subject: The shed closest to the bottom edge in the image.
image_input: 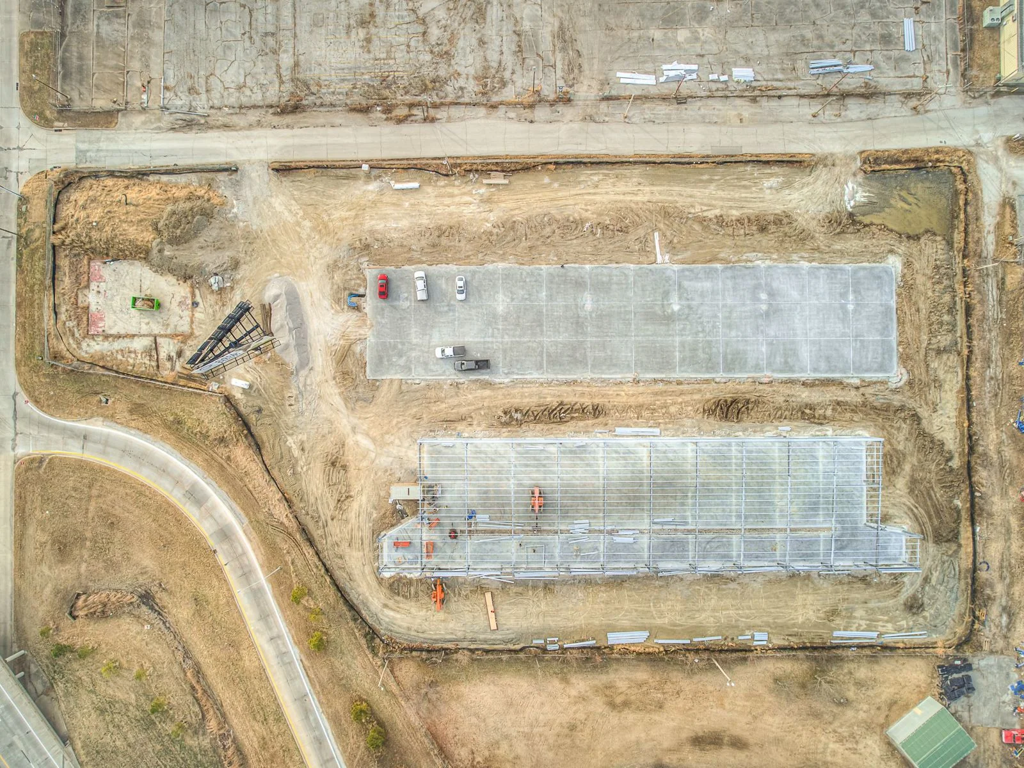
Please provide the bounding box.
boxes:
[887,696,977,768]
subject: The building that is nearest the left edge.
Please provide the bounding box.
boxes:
[379,436,924,571]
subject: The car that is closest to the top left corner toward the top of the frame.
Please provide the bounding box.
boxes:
[374,274,387,300]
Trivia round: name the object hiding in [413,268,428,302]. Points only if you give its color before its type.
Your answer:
white vehicle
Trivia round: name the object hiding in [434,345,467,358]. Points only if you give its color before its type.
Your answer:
white vehicle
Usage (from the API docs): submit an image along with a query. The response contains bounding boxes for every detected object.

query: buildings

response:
[887,696,977,768]
[379,436,924,571]
[999,0,1024,85]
